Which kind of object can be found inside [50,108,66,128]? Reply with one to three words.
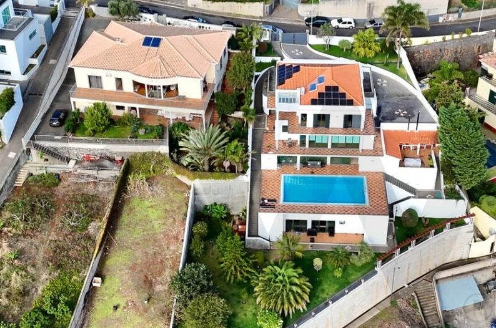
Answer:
car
